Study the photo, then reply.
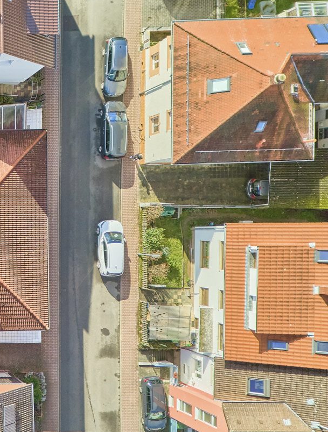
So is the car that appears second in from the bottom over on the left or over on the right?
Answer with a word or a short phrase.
left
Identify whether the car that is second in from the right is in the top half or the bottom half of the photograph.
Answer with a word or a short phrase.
bottom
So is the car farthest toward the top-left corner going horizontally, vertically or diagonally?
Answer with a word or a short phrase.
vertically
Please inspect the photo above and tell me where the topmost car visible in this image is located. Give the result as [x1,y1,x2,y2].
[101,38,131,98]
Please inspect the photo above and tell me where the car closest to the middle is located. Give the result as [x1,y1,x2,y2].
[96,220,126,277]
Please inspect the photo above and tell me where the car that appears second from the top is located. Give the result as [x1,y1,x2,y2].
[100,102,130,160]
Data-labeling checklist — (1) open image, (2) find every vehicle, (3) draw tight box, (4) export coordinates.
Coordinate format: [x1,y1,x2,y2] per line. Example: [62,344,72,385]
[96,220,126,277]
[101,38,131,98]
[138,375,170,432]
[240,179,267,199]
[100,102,130,160]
